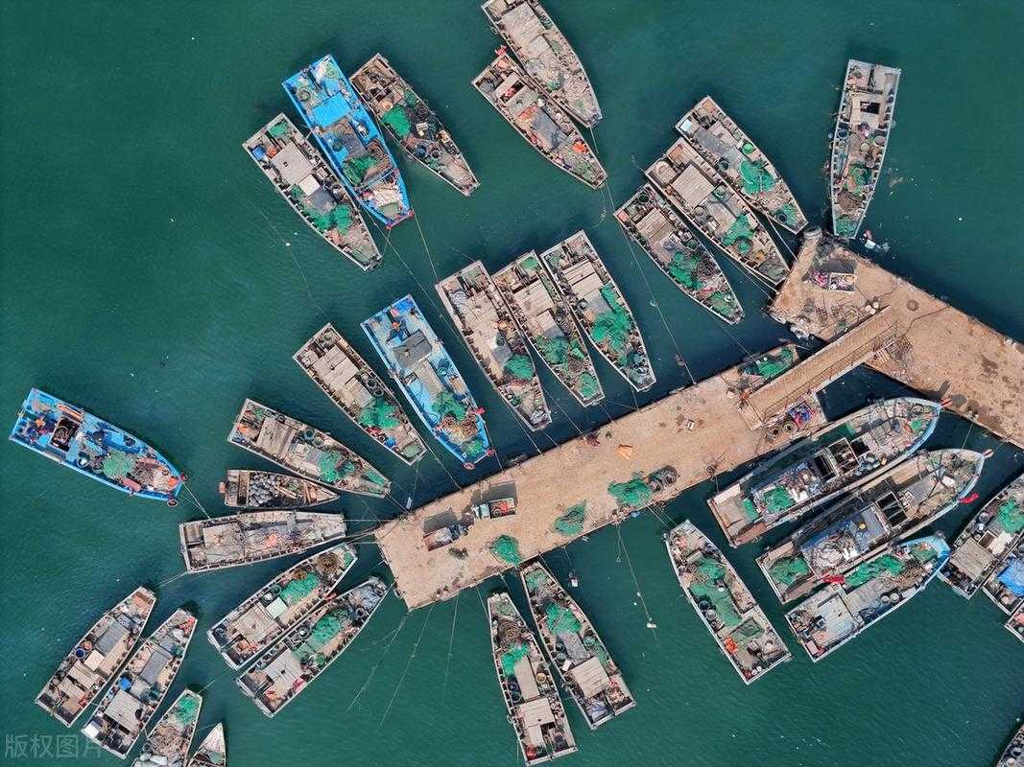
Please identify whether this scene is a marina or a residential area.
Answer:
marina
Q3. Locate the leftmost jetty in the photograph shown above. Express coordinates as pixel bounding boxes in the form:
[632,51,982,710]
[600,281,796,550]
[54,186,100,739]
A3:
[374,372,765,612]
